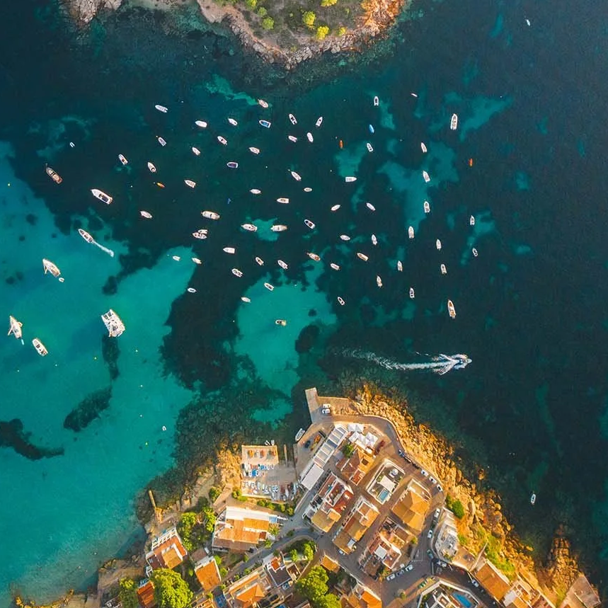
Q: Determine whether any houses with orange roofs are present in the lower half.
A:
Yes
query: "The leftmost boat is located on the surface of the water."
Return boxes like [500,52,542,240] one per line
[7,316,22,340]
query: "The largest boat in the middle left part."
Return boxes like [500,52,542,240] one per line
[102,308,127,339]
